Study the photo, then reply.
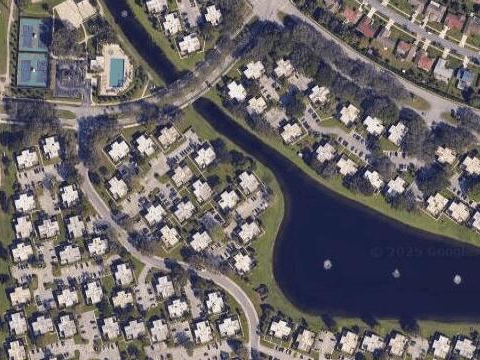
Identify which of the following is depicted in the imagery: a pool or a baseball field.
pool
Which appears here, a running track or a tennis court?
tennis court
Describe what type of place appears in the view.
residential area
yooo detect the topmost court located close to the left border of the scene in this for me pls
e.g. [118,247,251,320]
[20,18,53,51]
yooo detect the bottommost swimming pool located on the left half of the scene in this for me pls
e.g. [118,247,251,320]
[100,45,133,95]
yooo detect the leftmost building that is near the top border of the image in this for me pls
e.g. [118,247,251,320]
[54,0,98,28]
